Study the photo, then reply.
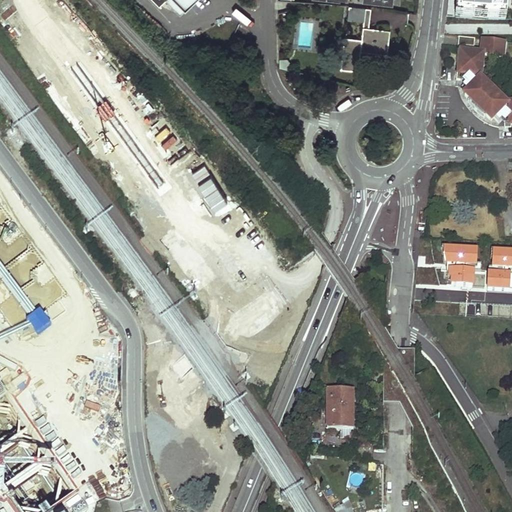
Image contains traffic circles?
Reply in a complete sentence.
Yes, there is a traffic circle in the image.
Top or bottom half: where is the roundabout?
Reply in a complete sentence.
Seen from above, the roundabout lies in the top half of the view.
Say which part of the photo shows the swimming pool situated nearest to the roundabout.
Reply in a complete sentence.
You can find the swimming pool situated nearest to the roundabout in the top area of the picture.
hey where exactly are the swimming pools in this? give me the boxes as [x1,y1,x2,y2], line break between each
[292,19,318,53]
[346,471,366,488]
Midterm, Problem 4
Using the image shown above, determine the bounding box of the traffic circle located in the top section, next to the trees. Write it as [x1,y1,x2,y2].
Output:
[322,90,432,206]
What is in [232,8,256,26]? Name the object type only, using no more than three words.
vehicle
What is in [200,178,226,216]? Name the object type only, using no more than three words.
building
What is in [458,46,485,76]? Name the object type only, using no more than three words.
house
